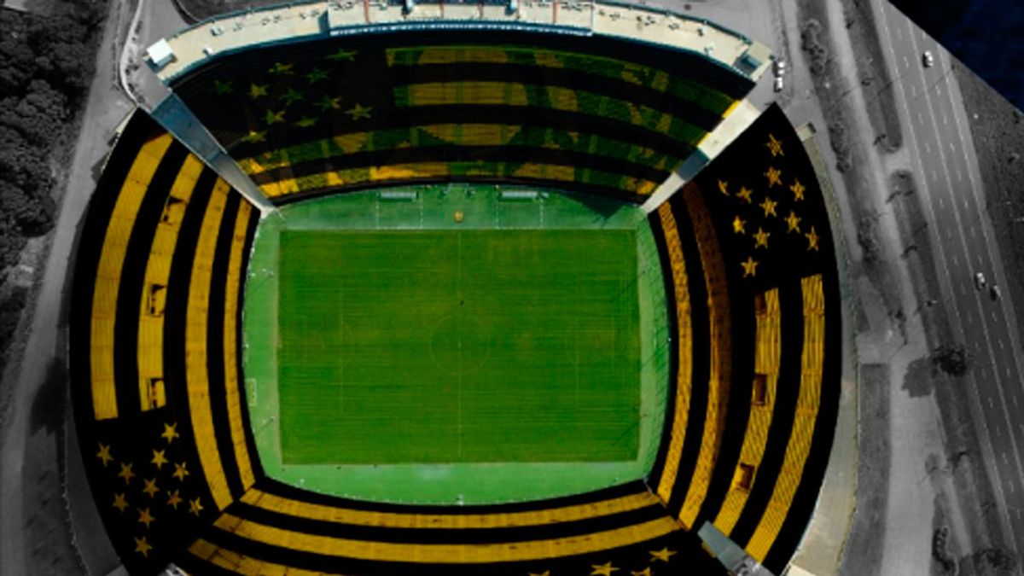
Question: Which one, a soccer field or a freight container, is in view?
soccer field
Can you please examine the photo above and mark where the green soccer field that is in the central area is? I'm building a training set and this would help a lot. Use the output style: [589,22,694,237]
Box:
[279,229,640,464]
